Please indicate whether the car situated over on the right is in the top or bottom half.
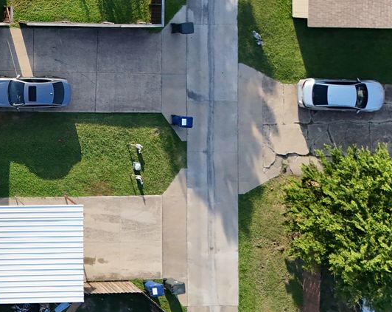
top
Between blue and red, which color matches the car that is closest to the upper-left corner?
blue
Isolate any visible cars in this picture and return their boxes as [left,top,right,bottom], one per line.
[0,74,70,113]
[297,75,386,114]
